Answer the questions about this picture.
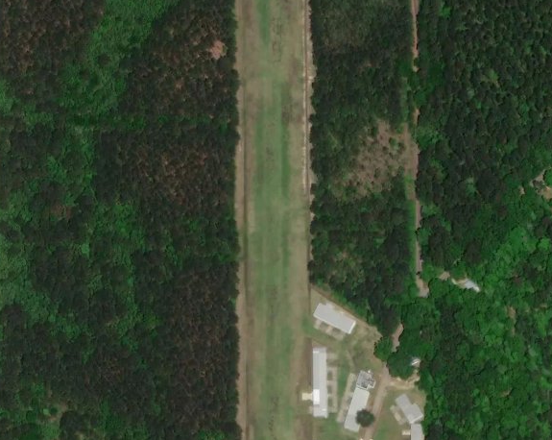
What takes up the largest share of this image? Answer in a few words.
trees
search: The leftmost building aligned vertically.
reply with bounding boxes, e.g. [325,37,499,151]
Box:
[313,348,328,417]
